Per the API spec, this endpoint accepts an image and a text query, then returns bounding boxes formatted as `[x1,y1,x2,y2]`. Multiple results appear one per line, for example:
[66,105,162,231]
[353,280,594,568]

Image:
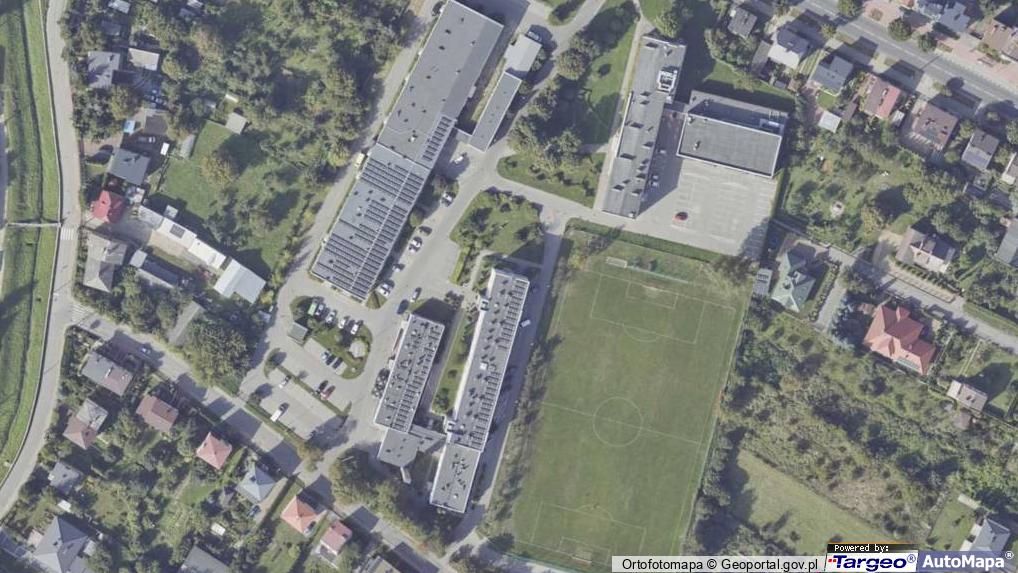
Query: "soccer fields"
[487,222,760,573]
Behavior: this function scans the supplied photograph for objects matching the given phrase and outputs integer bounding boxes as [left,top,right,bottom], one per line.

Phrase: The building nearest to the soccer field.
[754,269,772,295]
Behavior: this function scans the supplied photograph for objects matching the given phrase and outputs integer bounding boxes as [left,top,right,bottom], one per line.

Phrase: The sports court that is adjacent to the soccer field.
[650,156,774,260]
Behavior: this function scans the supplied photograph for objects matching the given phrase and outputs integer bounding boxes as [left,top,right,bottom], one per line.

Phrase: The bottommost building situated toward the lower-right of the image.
[967,518,1011,563]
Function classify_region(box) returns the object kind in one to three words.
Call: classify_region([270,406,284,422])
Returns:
vehicle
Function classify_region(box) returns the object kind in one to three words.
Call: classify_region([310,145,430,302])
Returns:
building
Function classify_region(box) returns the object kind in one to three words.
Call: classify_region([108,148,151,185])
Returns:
house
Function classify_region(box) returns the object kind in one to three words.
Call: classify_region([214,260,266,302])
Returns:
barn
